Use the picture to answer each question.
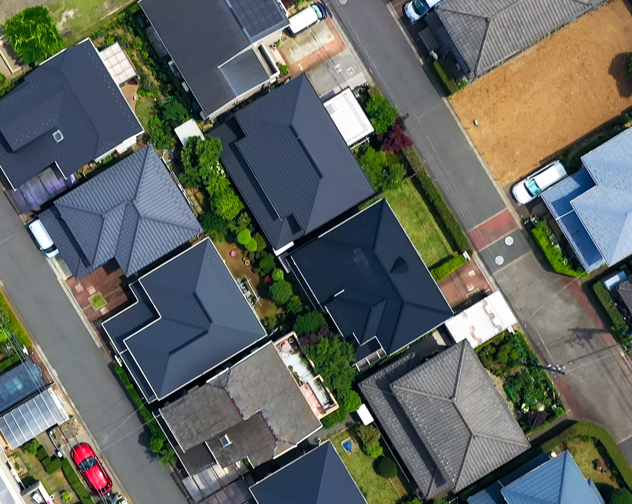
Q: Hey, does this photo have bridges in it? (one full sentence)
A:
No, the scene contains no bridge.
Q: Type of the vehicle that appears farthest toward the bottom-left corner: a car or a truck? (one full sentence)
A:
Specifically, the vehicle that appears farthest toward the bottom-left corner is a car.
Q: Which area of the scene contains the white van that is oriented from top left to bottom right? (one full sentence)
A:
Look in the left portion of the view to spot the white van that is oriented from top left to bottom right.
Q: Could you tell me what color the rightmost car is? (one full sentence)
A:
In this view, the rightmost car is white.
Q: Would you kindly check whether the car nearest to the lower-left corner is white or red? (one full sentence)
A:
In this view, the car nearest to the lower-left corner is red.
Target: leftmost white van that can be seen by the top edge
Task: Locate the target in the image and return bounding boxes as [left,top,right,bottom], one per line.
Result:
[284,0,331,38]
